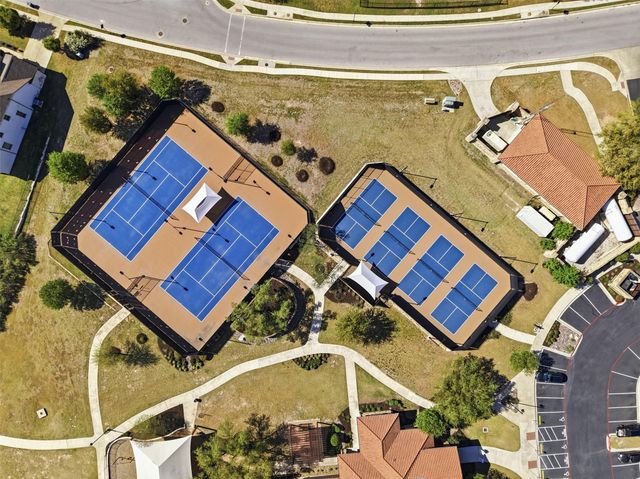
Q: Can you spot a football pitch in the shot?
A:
No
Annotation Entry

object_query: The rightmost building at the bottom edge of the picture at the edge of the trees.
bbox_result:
[336,409,465,479]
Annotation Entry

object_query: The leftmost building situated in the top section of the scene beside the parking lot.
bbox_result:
[496,113,617,230]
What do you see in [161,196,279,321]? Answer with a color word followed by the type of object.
blue tennis court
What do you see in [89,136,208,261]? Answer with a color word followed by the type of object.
blue tennis court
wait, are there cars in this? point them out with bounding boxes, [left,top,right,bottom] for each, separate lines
[620,424,640,438]
[621,451,640,466]
[539,373,565,386]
